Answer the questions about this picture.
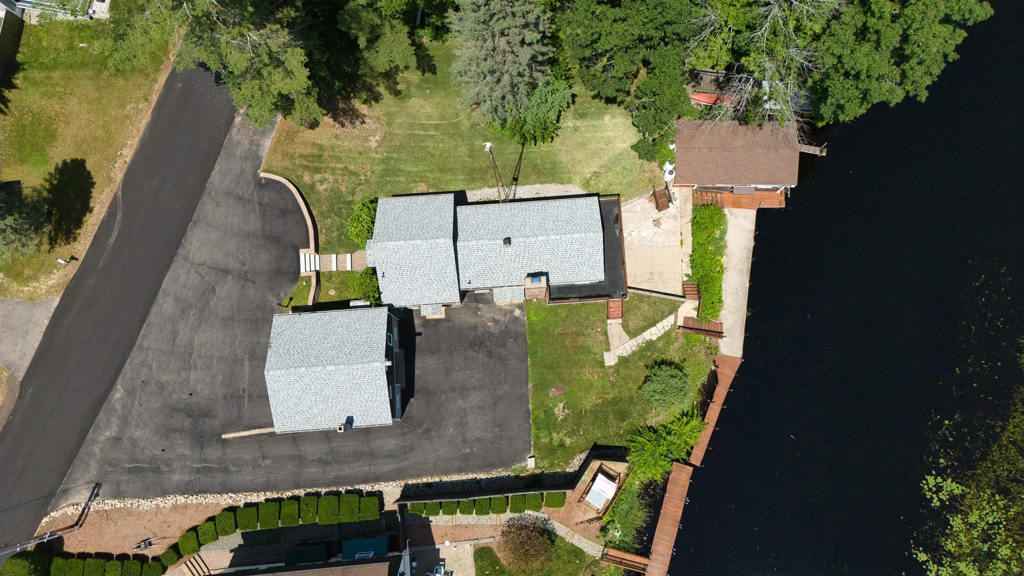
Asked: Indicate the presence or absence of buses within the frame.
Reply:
No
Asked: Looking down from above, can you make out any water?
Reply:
Yes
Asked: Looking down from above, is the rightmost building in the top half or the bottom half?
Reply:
top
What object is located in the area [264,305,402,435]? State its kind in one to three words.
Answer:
building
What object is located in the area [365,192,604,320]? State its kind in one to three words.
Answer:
house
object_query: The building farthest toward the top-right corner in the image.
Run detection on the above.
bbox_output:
[670,119,801,197]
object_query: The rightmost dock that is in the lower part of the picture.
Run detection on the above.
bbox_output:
[689,355,744,468]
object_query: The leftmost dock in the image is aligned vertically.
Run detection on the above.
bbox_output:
[646,462,693,576]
